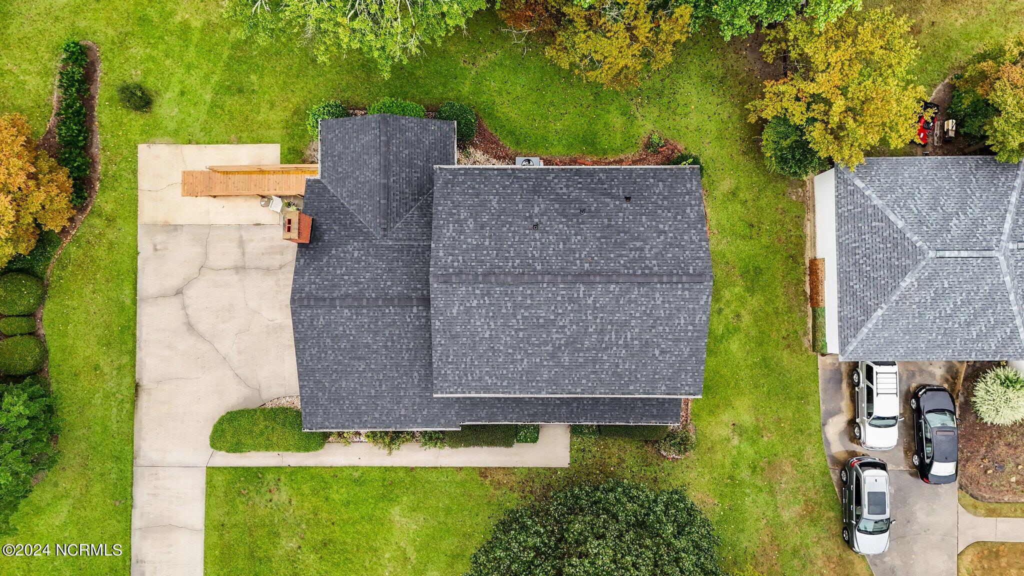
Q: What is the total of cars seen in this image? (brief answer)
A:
3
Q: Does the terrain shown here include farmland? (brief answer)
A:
No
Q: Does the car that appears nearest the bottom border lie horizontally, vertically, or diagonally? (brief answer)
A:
vertically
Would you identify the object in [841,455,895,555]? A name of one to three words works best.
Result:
car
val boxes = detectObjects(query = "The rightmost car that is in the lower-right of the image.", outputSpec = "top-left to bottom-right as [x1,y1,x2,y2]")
[912,385,966,485]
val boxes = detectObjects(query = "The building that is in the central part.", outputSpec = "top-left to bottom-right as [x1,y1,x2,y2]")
[283,114,712,433]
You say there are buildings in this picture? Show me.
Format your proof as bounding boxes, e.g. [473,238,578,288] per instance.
[283,114,712,433]
[815,155,1024,361]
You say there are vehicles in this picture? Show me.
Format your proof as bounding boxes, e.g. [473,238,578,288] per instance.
[841,455,895,555]
[854,360,907,450]
[912,385,966,485]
